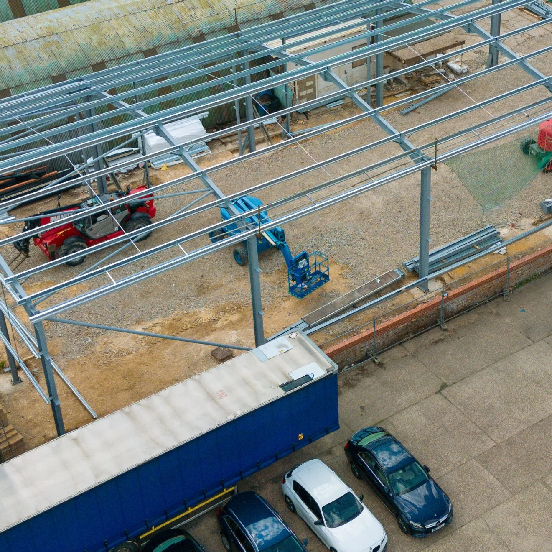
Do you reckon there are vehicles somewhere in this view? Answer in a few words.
Yes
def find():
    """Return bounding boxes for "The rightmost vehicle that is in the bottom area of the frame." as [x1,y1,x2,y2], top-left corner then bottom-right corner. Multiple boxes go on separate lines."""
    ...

[341,425,457,540]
